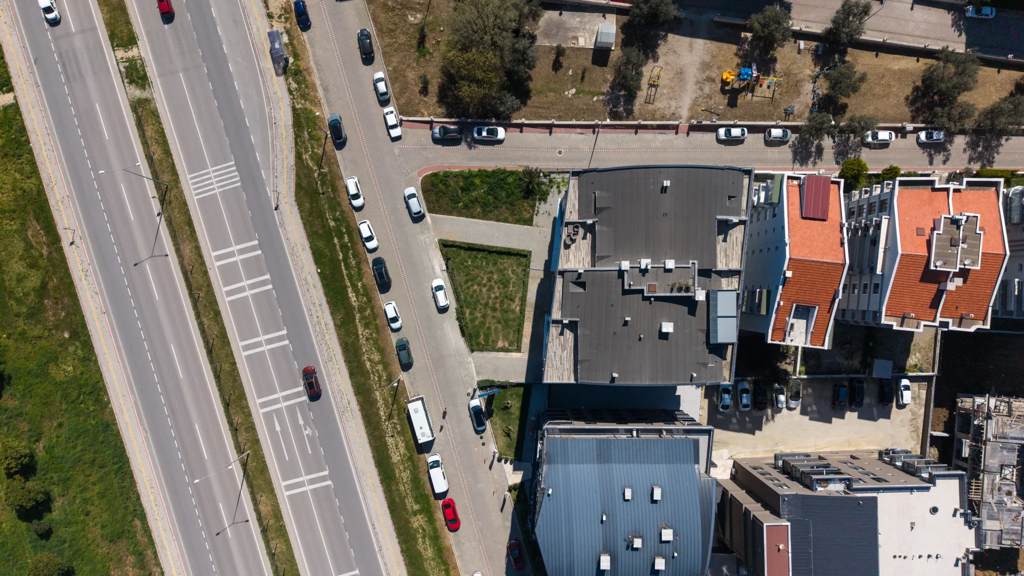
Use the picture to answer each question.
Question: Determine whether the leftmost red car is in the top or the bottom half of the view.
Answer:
top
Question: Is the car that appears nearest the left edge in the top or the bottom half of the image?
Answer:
top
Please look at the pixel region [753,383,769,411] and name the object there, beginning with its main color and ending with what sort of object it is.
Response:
black car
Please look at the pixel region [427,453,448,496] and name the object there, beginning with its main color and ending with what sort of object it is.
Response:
white vehicle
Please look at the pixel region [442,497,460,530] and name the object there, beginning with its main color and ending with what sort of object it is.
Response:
red car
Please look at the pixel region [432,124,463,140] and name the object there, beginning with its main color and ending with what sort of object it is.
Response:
black car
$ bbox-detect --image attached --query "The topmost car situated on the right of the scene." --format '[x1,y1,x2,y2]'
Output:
[963,3,997,20]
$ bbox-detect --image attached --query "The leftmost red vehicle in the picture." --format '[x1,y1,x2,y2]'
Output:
[157,0,177,21]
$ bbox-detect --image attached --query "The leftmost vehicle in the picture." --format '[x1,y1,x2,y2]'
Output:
[38,0,61,25]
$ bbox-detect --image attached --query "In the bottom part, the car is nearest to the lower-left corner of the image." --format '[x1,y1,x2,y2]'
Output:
[302,365,322,399]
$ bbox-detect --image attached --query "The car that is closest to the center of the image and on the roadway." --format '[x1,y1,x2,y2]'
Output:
[431,278,449,310]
